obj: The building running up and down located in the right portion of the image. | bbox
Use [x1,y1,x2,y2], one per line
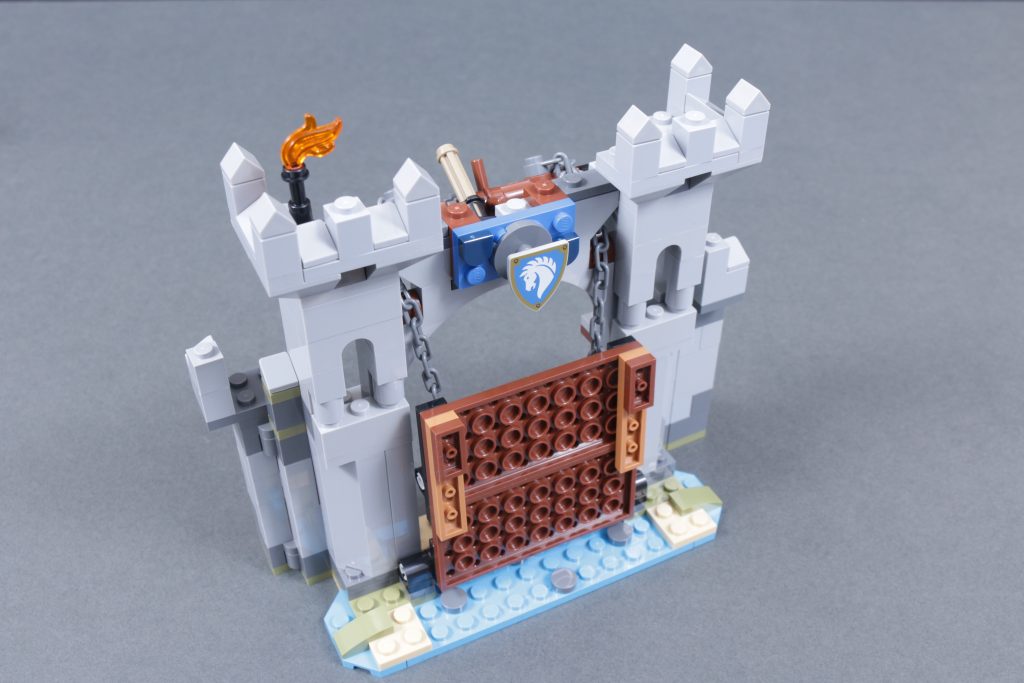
[593,44,770,488]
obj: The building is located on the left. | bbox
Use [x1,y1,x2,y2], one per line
[221,144,444,600]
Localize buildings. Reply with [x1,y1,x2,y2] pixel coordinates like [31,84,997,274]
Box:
[221,144,444,600]
[593,44,770,488]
